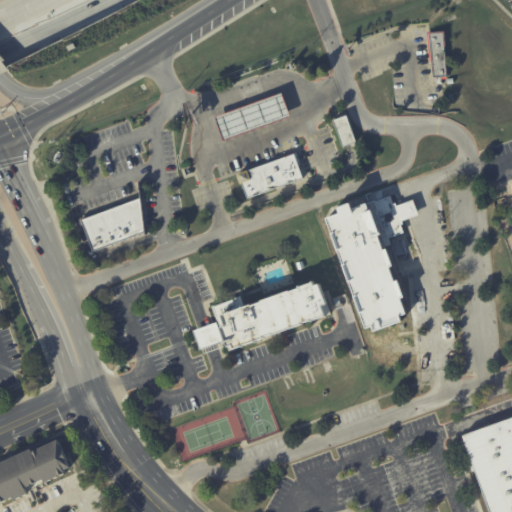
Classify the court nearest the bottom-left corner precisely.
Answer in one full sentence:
Looking closely, the court nearest the bottom-left corner is a tennis court.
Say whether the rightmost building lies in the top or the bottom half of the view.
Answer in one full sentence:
The rightmost building is in the bottom half of the image.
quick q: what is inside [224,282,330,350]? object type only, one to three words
building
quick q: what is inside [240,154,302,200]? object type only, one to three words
building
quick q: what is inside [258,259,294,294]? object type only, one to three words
swimming pool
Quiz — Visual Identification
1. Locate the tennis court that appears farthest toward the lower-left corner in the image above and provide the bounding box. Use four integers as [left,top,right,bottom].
[176,406,247,462]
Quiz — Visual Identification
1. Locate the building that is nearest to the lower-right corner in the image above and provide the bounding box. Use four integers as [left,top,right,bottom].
[460,418,512,512]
